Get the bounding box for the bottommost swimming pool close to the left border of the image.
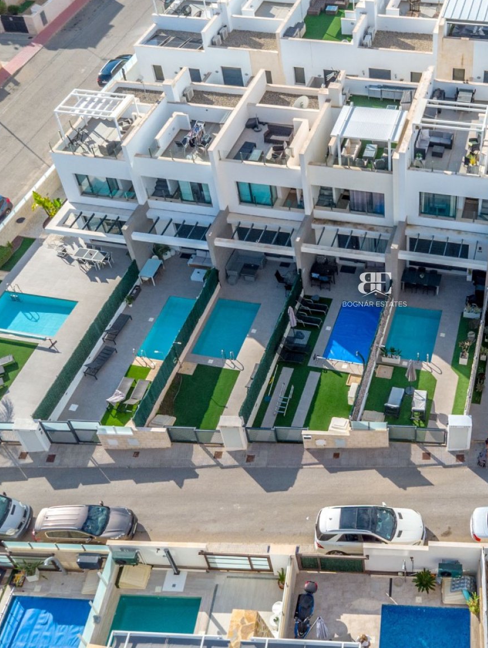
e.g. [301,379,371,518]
[0,595,96,648]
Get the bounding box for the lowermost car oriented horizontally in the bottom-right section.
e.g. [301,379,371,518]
[314,503,425,556]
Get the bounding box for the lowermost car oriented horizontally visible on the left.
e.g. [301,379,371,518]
[29,498,137,547]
